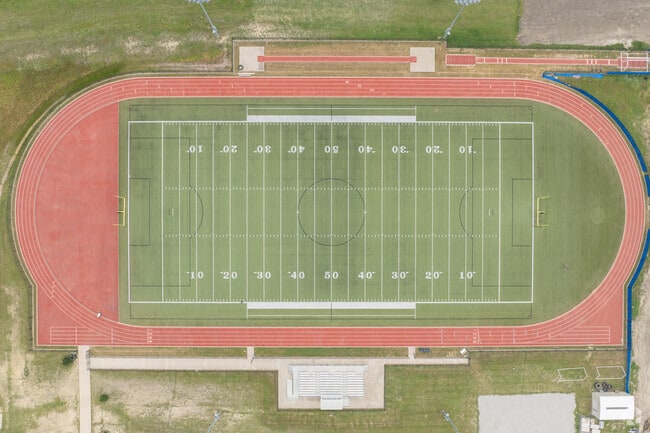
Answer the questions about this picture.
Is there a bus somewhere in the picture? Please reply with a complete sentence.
No, there's no bus here.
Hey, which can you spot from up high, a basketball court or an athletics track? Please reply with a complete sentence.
I can see an athletics track in this picture.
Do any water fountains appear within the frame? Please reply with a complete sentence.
No, the frame has no water fountain in it.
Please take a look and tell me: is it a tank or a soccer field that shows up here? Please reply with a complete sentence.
Of the two, only a soccer field appears.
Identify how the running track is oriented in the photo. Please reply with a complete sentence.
In this picture, the running track lies horizontally.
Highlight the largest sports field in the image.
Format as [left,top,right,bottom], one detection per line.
[119,98,625,326]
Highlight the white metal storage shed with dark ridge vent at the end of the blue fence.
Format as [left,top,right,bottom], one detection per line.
[592,392,636,420]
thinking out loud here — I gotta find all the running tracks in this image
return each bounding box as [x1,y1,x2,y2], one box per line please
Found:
[15,77,645,347]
